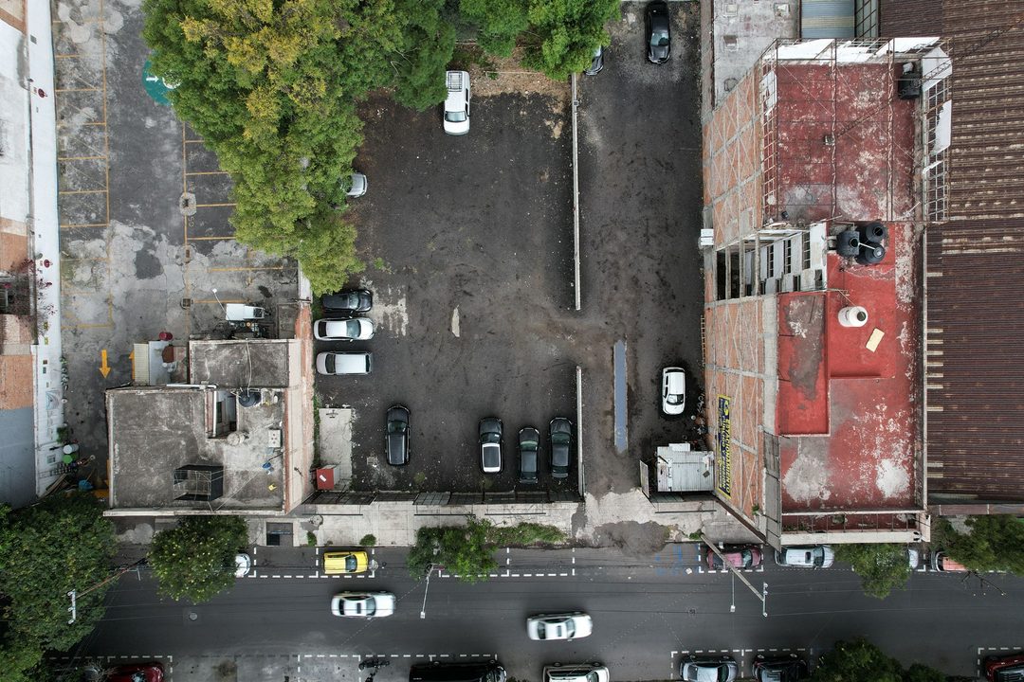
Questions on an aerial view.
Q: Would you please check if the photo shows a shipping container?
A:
No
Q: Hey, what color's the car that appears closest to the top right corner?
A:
black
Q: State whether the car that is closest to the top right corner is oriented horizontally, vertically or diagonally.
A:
vertically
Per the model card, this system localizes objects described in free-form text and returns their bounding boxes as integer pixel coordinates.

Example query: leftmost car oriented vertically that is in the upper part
[441,69,471,137]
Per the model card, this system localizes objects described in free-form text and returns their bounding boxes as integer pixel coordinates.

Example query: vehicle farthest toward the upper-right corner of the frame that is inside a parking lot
[645,8,673,66]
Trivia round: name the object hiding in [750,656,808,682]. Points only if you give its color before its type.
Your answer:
black car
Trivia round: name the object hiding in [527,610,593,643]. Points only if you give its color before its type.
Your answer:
white car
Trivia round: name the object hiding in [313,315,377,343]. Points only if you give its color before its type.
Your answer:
white car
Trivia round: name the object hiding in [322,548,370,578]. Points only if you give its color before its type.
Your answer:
yellow car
